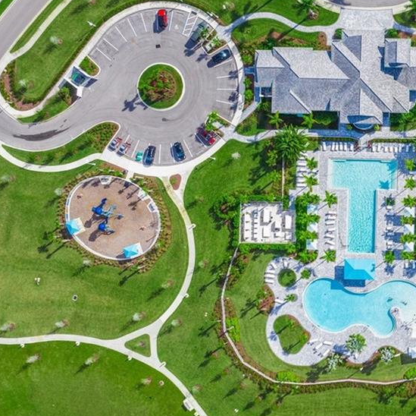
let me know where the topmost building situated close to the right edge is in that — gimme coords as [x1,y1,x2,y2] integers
[252,26,416,132]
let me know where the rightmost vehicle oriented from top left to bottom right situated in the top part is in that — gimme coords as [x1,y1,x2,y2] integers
[199,129,218,146]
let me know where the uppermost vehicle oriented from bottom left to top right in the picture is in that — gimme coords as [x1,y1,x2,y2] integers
[190,19,209,41]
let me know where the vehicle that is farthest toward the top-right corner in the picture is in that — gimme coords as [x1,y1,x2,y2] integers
[212,49,232,62]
